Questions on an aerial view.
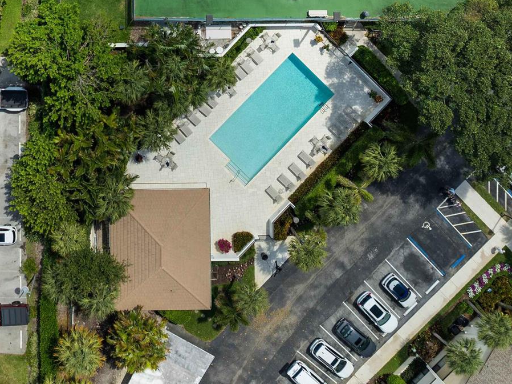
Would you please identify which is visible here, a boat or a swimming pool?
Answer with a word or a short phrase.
swimming pool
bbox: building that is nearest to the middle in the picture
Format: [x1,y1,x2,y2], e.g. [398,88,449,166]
[111,183,212,312]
